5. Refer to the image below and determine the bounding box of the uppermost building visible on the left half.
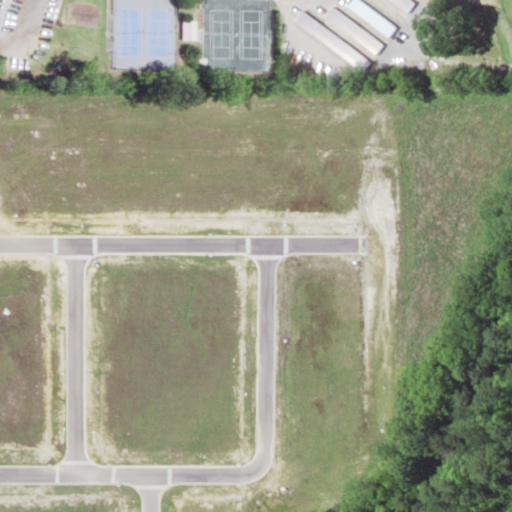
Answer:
[182,20,198,42]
